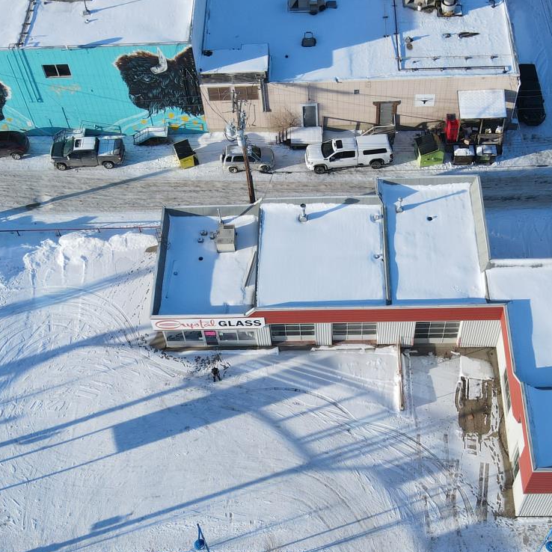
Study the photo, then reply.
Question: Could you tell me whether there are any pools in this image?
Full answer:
No, I find no pool anywhere in the image.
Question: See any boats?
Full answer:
No, this view has no boat in it.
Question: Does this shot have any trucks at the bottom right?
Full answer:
No, there's no truck to be seen at the bottom right.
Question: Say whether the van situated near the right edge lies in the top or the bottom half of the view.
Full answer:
The van situated near the right edge sits in the top half of the picture.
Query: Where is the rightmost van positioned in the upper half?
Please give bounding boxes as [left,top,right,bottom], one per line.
[513,58,551,120]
